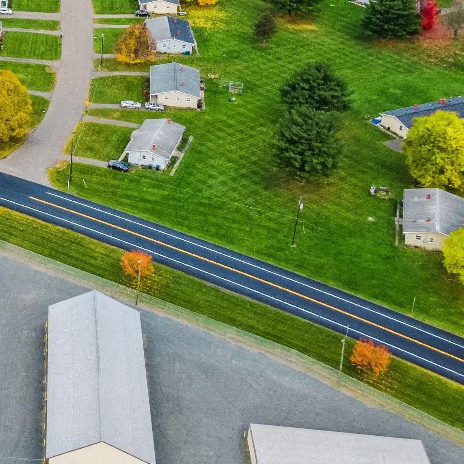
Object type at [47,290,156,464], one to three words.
building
